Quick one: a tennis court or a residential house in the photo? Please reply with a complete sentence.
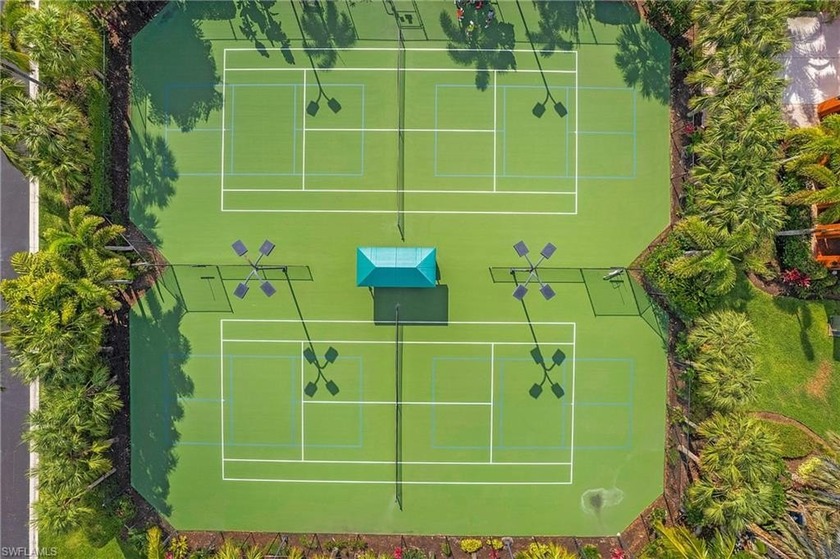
Of the two, only a tennis court appears.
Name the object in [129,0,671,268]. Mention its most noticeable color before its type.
green tennis court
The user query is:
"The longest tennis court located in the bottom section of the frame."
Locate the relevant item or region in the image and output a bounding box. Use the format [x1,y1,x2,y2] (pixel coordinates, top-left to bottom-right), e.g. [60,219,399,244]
[130,264,668,534]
